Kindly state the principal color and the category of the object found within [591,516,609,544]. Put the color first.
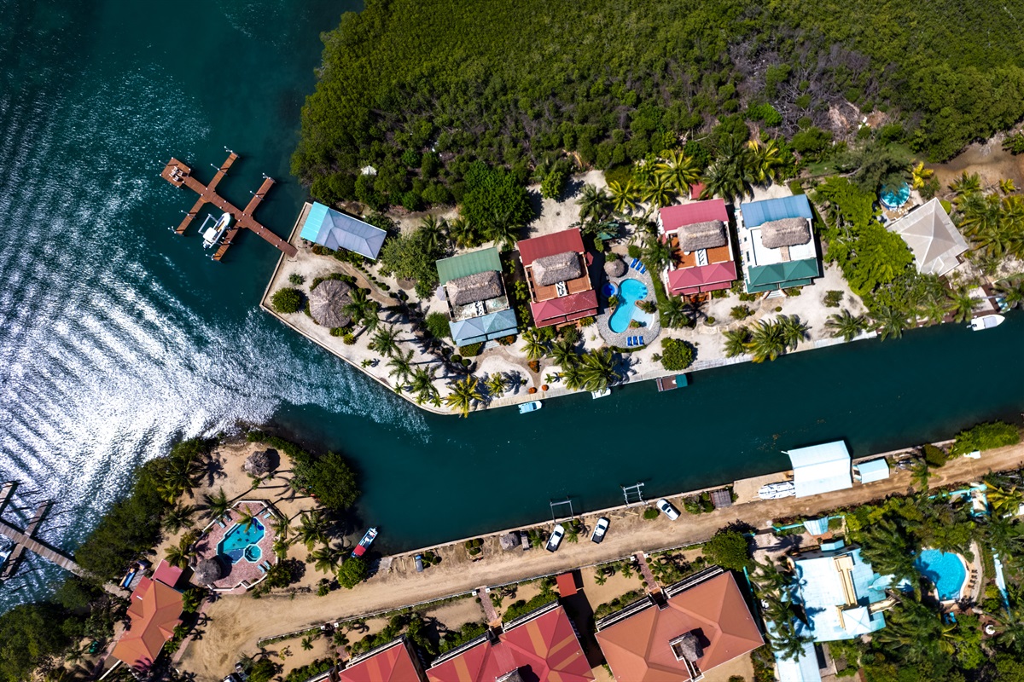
white vehicle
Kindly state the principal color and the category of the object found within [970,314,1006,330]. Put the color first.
white boat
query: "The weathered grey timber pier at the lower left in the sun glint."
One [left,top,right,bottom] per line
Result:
[0,475,85,585]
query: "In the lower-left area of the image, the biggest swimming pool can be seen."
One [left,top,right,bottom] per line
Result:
[191,504,279,589]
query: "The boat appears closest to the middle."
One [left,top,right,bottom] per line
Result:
[515,402,542,414]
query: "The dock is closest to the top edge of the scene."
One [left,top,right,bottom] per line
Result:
[159,146,298,262]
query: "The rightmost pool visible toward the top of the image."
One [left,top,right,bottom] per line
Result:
[878,179,912,210]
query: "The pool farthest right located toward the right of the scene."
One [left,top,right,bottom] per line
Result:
[911,543,980,611]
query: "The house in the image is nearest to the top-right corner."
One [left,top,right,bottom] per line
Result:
[885,197,968,277]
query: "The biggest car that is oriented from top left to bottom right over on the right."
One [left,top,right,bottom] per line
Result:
[656,496,680,522]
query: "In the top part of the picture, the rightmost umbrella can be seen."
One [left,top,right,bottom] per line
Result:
[604,258,625,279]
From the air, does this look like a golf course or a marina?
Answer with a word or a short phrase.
marina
